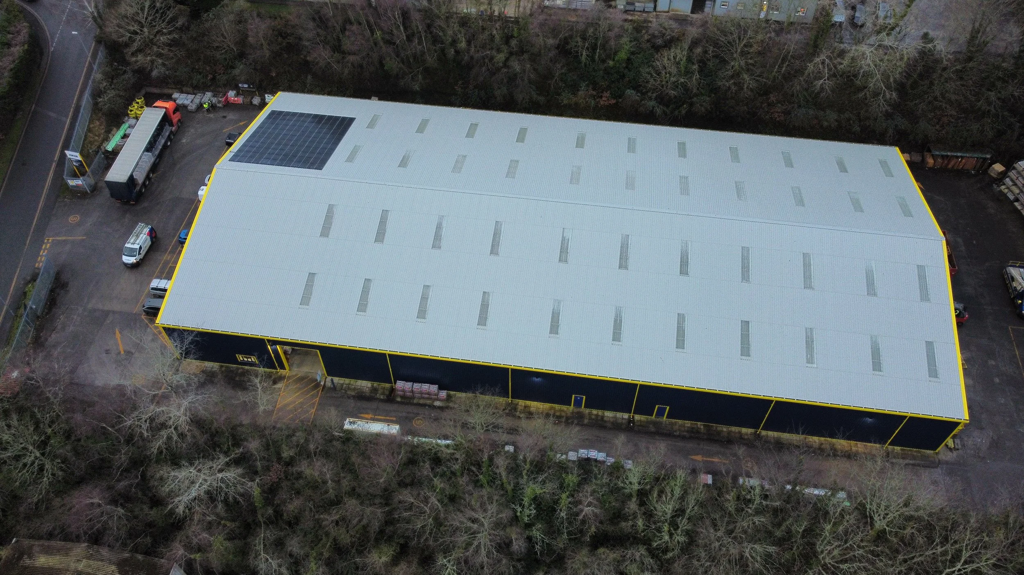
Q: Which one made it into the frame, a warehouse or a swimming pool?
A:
warehouse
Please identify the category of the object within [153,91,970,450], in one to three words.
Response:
warehouse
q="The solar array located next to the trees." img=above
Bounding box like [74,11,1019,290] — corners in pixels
[229,109,355,169]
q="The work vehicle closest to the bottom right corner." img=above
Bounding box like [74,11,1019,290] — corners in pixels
[953,301,967,322]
